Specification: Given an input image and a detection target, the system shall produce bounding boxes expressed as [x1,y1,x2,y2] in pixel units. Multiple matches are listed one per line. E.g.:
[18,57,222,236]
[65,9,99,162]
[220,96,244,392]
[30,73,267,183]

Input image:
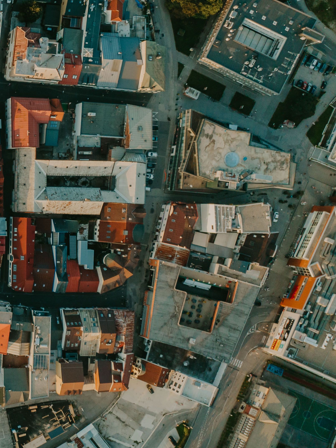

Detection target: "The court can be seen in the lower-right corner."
[282,382,336,440]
